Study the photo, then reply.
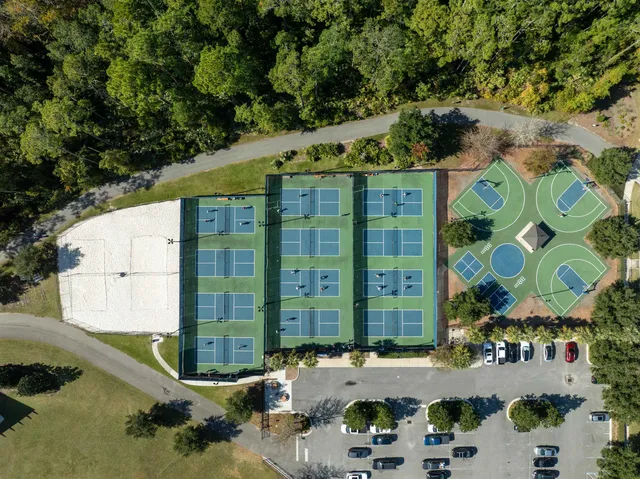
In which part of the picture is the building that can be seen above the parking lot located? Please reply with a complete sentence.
The building that can be seen above the parking lot appears toward the right of the photo.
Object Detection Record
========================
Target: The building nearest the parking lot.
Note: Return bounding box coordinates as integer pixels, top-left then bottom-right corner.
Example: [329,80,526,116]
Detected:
[515,221,549,253]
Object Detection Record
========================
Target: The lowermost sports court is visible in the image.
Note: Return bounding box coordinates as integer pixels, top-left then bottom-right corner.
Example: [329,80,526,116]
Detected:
[183,329,266,375]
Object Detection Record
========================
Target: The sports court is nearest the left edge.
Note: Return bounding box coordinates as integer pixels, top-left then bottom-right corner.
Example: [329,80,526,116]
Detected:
[57,198,183,336]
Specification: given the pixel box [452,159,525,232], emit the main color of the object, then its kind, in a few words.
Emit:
green basketball court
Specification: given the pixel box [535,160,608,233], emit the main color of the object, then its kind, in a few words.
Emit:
green basketball court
